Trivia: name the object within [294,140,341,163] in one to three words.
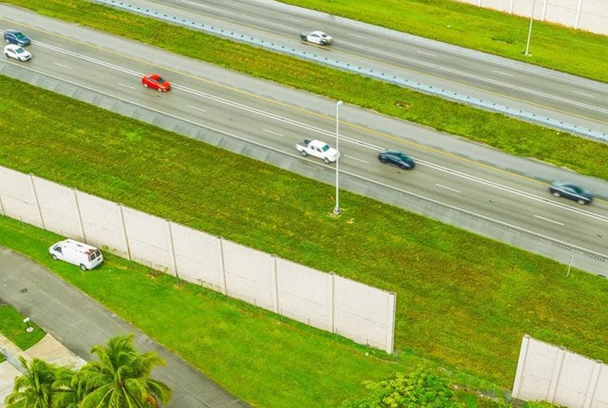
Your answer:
truck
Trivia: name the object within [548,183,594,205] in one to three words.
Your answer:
car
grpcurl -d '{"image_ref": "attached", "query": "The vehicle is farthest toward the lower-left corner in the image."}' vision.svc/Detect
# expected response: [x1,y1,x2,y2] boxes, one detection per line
[48,239,106,271]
